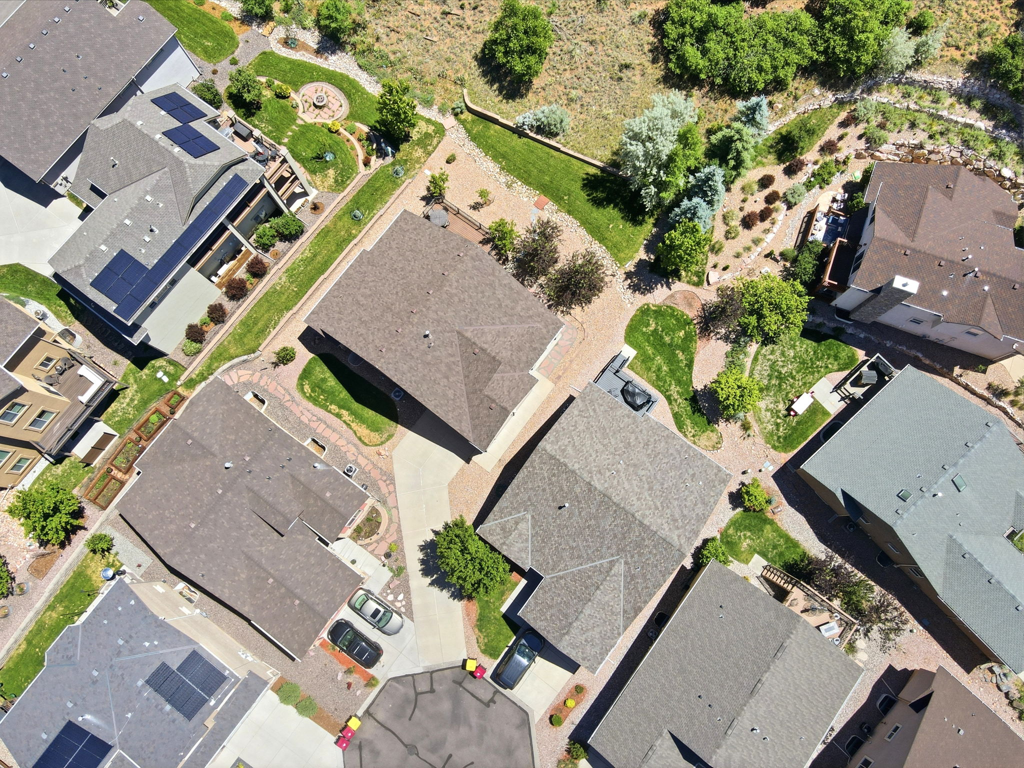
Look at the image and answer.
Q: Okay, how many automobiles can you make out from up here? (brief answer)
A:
3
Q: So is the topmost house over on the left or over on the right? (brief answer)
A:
left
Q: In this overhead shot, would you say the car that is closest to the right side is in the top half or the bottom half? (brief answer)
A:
bottom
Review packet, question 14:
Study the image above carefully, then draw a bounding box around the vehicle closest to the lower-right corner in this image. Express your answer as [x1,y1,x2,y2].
[496,623,547,696]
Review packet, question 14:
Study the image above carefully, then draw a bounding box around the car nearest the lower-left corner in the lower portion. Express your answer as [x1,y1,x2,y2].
[327,617,385,675]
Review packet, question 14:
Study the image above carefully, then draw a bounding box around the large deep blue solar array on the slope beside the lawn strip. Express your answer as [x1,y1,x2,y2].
[34,721,113,768]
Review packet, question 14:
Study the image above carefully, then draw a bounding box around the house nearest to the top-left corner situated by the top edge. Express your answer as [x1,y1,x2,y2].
[0,0,192,196]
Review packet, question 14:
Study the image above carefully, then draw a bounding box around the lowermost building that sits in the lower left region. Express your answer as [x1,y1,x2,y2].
[0,577,279,768]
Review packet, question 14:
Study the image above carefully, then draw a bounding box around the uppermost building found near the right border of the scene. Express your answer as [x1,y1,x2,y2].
[834,161,1024,358]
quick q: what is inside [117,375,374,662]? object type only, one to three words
house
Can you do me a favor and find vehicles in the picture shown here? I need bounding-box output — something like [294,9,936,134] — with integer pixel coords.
[327,617,385,675]
[348,586,408,636]
[496,623,547,696]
